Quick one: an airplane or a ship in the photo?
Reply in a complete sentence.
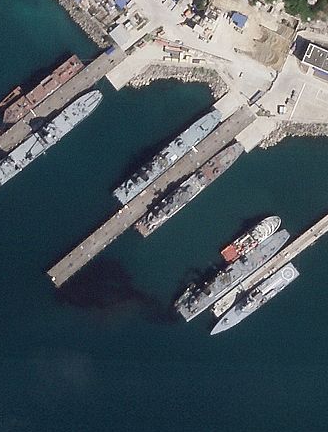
The one in the frame is a ship.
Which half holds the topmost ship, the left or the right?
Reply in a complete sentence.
It is on the left.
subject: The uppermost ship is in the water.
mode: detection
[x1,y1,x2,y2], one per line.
[4,55,84,123]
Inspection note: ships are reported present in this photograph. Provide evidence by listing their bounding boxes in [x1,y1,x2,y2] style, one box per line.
[135,145,242,237]
[0,93,102,187]
[176,230,289,321]
[210,263,299,335]
[4,55,84,123]
[220,217,280,263]
[114,113,222,205]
